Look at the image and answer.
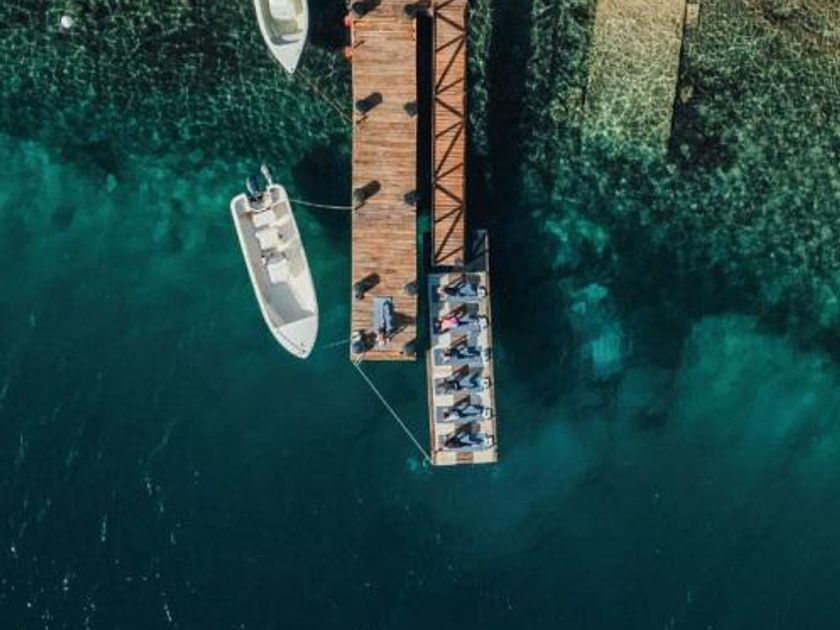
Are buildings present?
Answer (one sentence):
No, no building can be seen from above.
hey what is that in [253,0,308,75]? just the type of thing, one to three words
boat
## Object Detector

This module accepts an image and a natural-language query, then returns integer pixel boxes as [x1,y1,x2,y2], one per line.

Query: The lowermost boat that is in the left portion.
[233,173,314,358]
